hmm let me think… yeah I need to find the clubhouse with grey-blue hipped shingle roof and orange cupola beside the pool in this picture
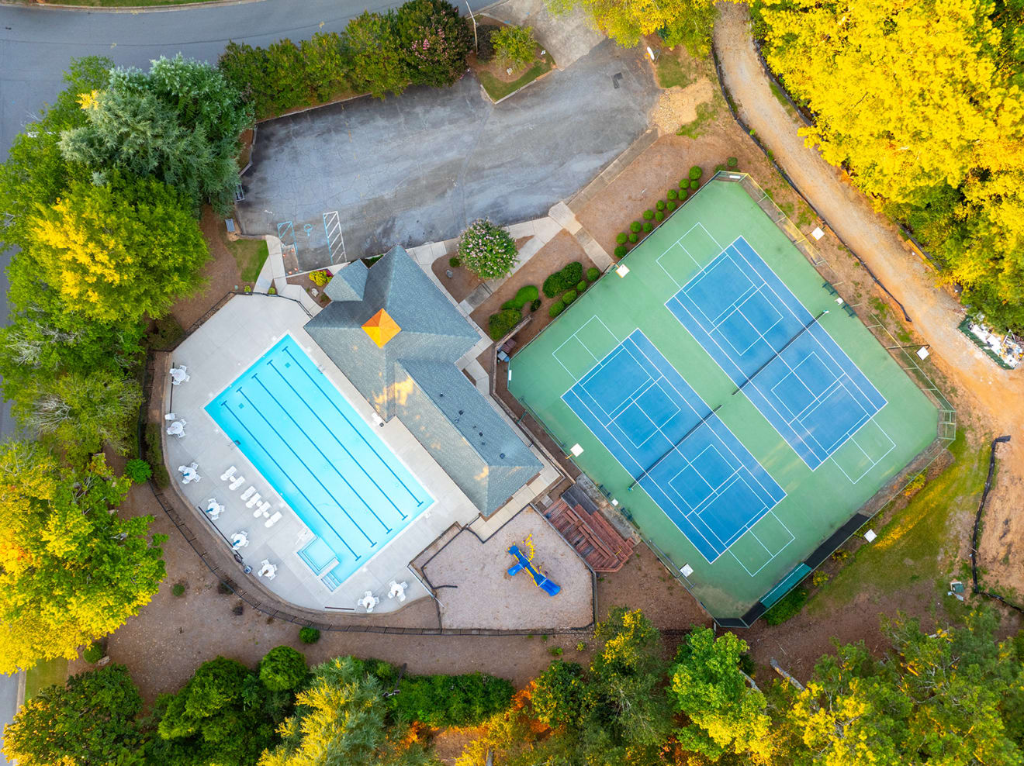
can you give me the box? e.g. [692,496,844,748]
[305,245,542,518]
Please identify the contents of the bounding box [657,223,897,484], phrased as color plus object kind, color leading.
blue tennis court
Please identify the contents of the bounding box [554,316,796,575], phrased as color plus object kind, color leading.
blue tennis court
